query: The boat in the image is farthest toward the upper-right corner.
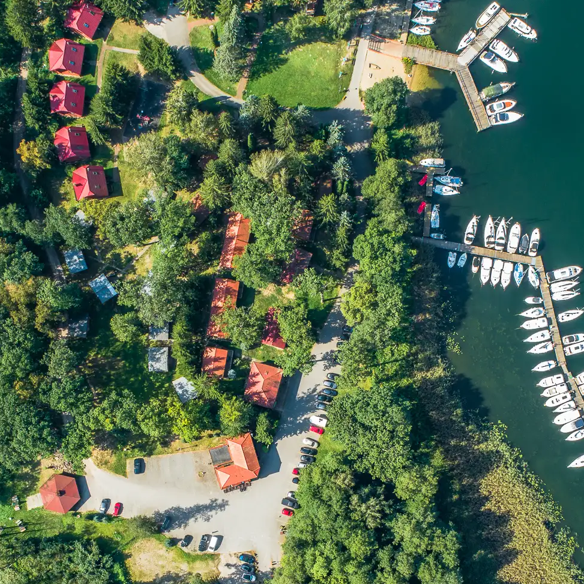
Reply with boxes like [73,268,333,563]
[506,18,537,37]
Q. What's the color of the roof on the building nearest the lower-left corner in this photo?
red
